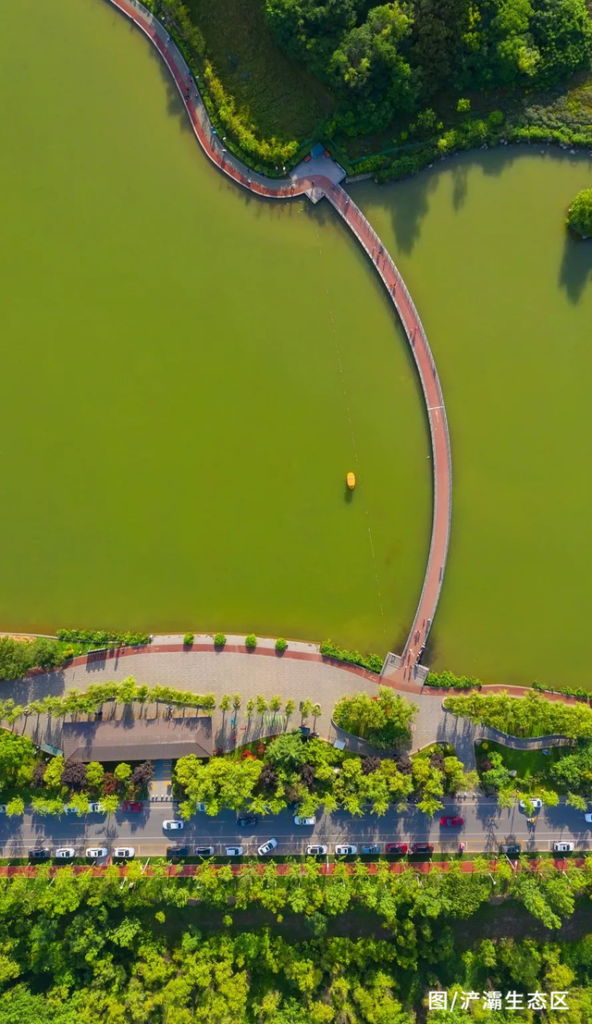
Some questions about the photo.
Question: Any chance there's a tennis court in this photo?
No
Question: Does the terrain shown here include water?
Yes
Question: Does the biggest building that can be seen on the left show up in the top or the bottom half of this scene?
bottom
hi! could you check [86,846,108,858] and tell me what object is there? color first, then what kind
white vehicle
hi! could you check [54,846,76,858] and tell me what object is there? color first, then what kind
white vehicle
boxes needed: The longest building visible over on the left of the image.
[63,715,213,762]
